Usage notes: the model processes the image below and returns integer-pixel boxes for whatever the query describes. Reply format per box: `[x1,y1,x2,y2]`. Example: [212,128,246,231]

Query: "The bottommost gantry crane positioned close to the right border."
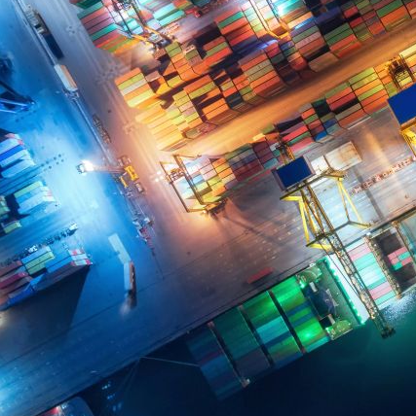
[267,136,399,340]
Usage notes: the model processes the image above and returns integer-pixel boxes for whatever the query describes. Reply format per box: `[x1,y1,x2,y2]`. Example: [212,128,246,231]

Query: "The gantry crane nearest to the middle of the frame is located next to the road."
[156,150,226,215]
